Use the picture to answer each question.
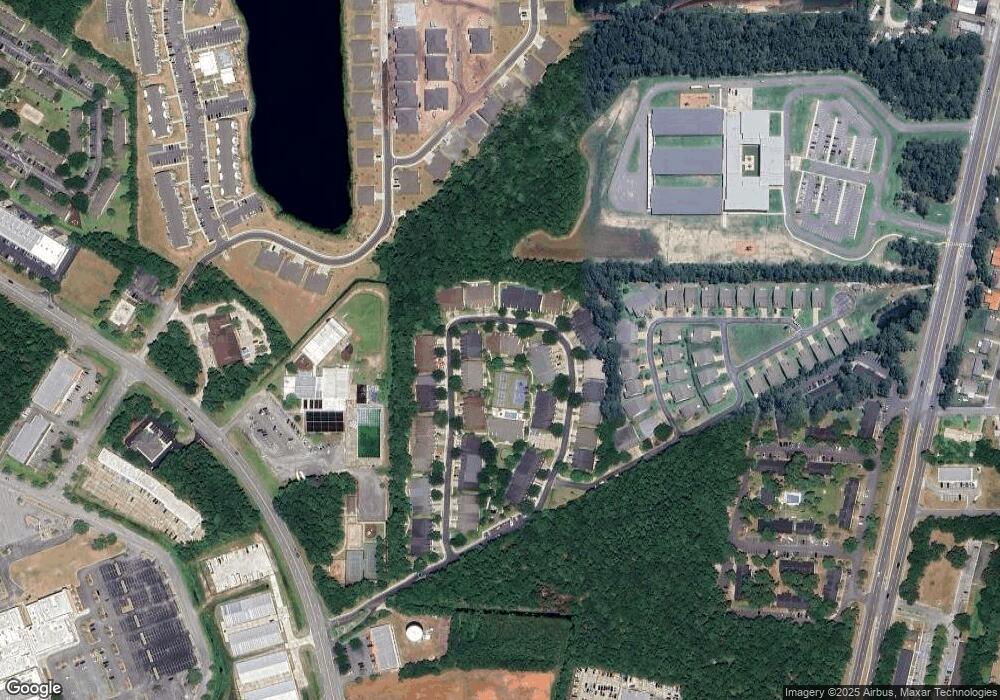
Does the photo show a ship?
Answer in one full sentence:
No, this view has no ship in it.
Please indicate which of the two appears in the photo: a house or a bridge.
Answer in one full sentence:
The image shows a house.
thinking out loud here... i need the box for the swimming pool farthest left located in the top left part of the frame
[218,49,232,69]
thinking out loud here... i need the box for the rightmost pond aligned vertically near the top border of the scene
[233,0,353,230]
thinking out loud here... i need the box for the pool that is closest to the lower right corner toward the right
[784,492,802,505]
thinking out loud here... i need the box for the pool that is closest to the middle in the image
[492,407,520,420]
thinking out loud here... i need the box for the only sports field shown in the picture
[343,292,383,351]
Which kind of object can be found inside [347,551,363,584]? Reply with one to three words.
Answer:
tennis court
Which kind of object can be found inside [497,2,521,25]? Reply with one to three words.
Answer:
house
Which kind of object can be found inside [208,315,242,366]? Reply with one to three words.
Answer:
building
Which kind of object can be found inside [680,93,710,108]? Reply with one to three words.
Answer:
playground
